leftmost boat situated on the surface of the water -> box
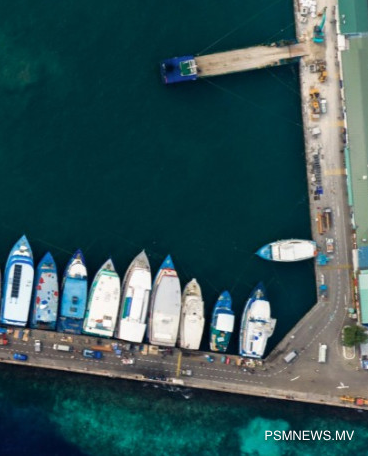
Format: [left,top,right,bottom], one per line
[1,235,34,327]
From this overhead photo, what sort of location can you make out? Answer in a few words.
port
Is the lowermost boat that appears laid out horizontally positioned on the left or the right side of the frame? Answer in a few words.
right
